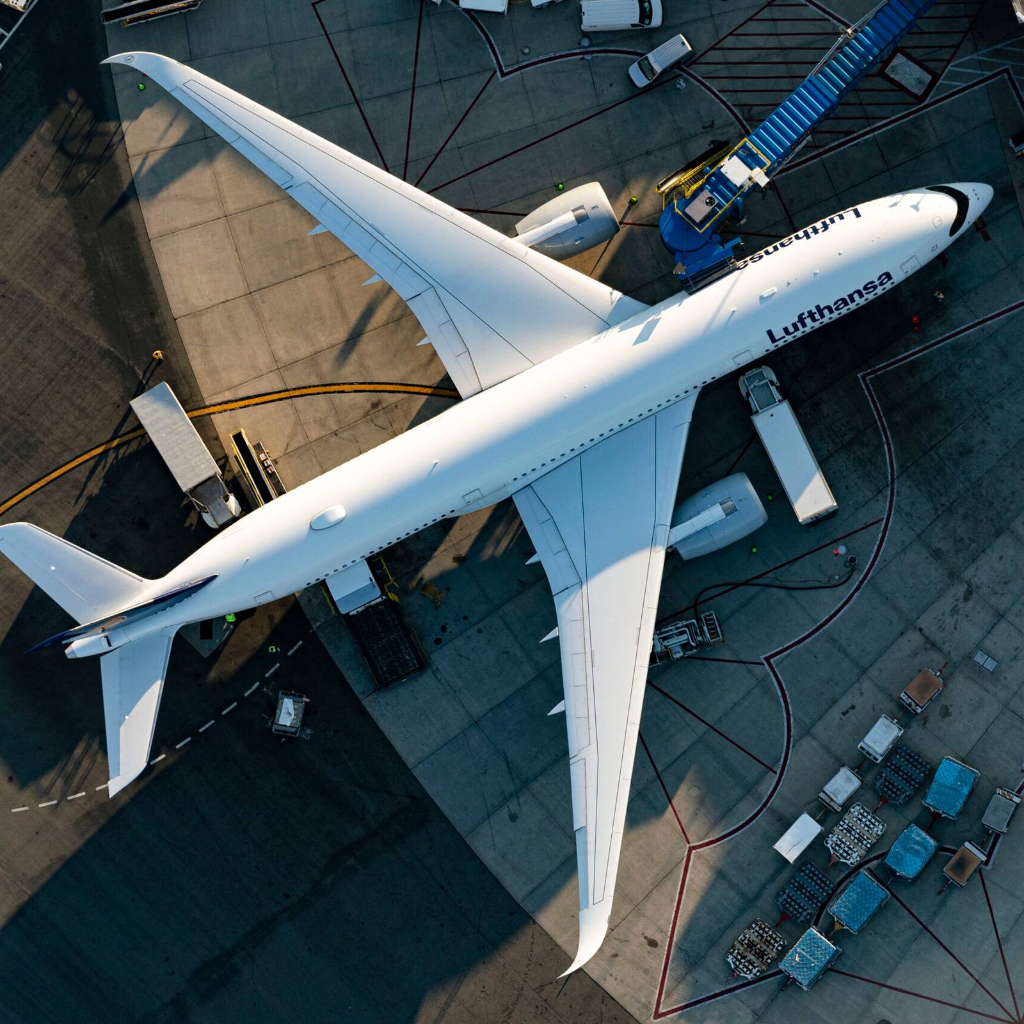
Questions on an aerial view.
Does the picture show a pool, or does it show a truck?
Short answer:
truck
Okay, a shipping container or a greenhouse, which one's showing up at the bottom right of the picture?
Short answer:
shipping container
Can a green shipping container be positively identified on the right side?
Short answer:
No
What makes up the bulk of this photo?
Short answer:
paved ground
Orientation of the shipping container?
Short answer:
on a diagonal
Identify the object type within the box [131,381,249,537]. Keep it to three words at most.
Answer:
truck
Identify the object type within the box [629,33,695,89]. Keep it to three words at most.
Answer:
van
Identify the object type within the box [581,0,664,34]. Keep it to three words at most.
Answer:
van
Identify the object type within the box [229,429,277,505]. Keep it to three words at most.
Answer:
work vehicle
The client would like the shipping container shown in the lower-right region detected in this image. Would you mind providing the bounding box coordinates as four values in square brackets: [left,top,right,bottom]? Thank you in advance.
[772,805,830,865]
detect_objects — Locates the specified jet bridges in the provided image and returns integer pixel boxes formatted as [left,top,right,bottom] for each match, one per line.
[658,0,943,296]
